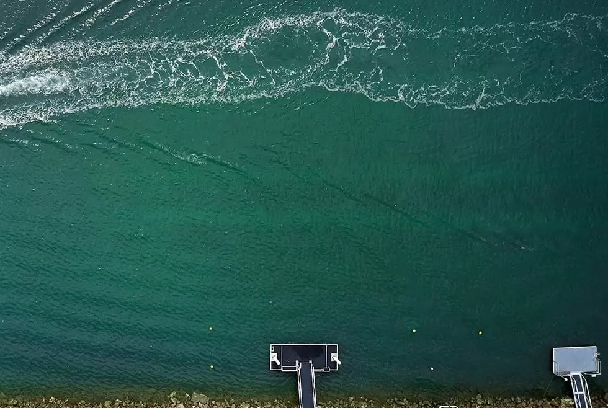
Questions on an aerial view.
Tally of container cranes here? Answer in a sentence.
The picture shows no container cranes.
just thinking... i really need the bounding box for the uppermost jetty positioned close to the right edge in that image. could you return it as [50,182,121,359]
[552,346,604,381]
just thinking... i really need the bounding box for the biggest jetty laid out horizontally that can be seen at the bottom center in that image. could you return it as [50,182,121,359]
[270,344,338,372]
